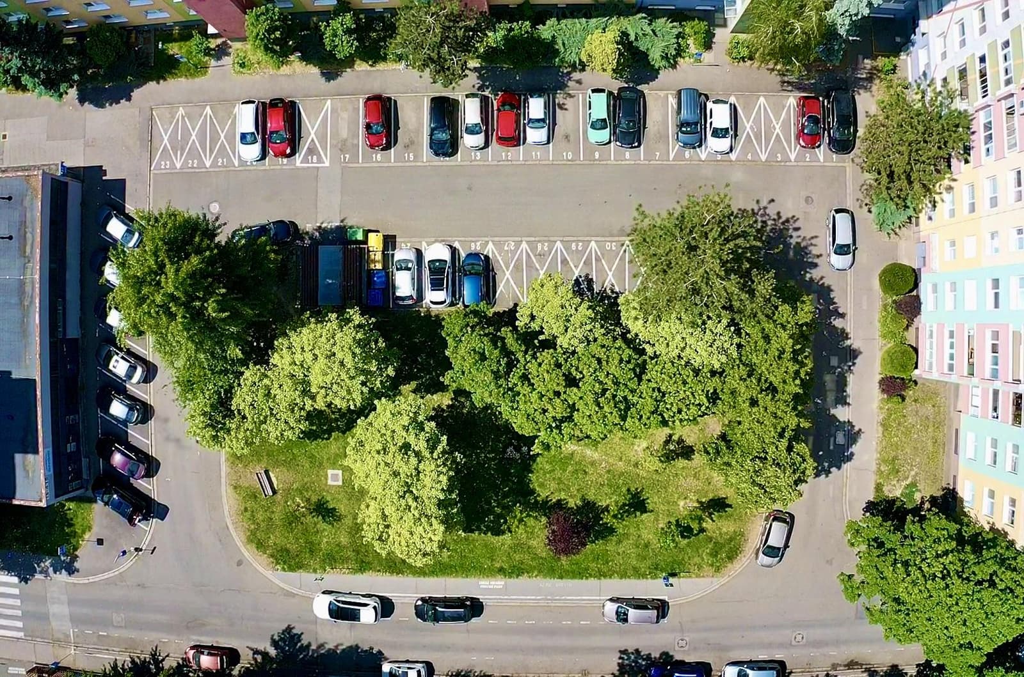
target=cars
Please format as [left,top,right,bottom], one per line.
[95,296,142,339]
[428,97,457,157]
[98,388,152,428]
[493,94,521,147]
[424,245,454,306]
[461,253,489,306]
[825,91,858,154]
[415,595,471,627]
[615,88,644,148]
[586,89,614,146]
[97,344,154,385]
[460,95,488,150]
[92,251,141,293]
[603,596,661,626]
[756,508,792,567]
[315,591,381,624]
[362,96,391,151]
[379,655,434,677]
[706,100,735,154]
[265,99,295,157]
[92,476,154,525]
[95,206,149,249]
[238,217,300,246]
[524,95,551,146]
[795,96,824,149]
[235,101,266,161]
[390,248,418,304]
[101,440,156,482]
[181,642,235,673]
[719,659,781,677]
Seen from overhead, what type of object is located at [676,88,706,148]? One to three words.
van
